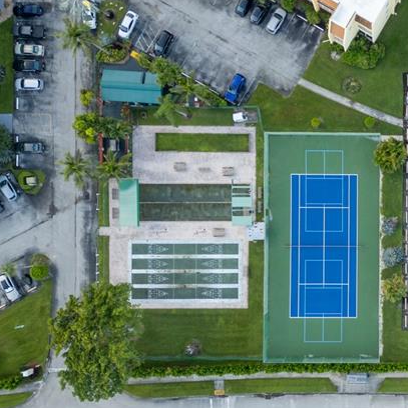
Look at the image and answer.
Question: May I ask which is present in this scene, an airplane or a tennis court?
tennis court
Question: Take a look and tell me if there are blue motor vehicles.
Yes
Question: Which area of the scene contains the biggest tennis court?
right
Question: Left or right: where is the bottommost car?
left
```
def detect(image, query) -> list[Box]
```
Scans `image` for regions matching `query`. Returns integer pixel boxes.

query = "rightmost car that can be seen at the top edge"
[266,8,286,36]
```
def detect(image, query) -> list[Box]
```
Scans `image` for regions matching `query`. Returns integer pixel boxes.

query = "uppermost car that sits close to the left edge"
[14,2,45,18]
